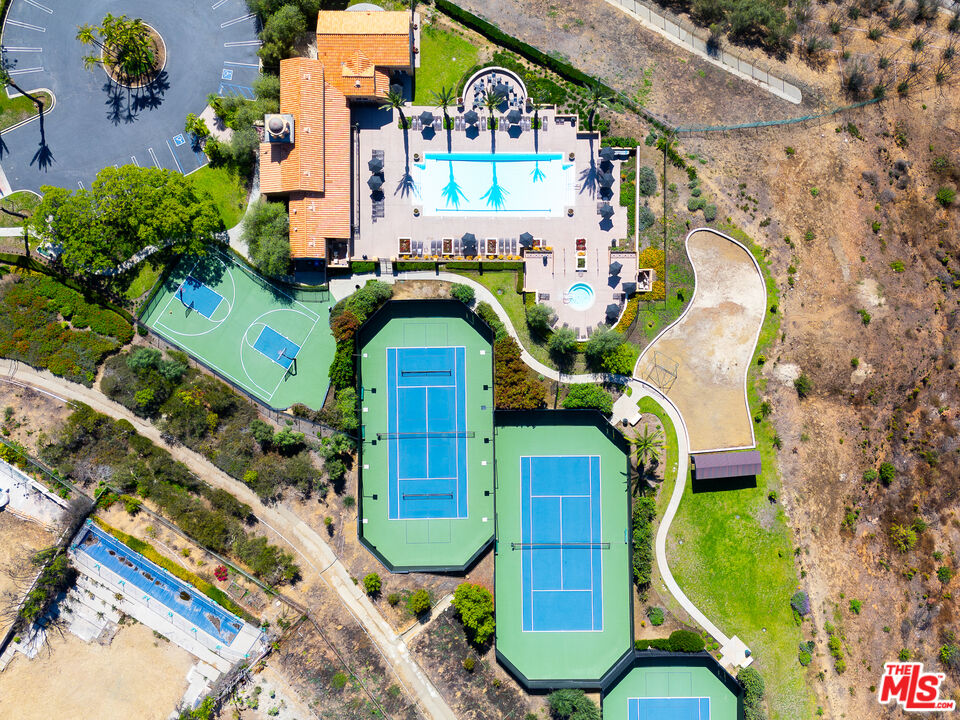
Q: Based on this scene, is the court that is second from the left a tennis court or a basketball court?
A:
tennis court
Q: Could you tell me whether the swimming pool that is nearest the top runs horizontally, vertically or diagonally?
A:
horizontally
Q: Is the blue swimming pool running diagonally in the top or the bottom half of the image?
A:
bottom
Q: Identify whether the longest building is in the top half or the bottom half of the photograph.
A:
top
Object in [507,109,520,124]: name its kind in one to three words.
umbrella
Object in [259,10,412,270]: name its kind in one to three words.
building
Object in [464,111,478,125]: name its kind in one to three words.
umbrella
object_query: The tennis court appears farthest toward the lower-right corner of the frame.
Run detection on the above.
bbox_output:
[602,668,738,720]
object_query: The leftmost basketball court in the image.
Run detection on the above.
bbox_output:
[141,249,337,411]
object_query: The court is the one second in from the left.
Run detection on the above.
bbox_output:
[360,302,494,567]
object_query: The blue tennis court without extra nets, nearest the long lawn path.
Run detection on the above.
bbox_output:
[496,412,631,680]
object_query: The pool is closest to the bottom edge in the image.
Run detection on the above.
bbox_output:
[72,526,245,648]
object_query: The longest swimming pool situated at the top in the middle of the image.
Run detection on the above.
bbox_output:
[412,152,581,217]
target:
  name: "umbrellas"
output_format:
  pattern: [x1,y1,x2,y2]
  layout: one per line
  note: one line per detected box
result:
[368,158,382,172]
[507,109,520,124]
[419,112,433,126]
[622,281,637,295]
[601,203,614,218]
[608,262,622,275]
[518,232,533,246]
[462,232,475,247]
[368,175,382,190]
[601,146,613,160]
[606,305,620,318]
[492,82,510,98]
[464,111,478,125]
[600,173,615,187]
